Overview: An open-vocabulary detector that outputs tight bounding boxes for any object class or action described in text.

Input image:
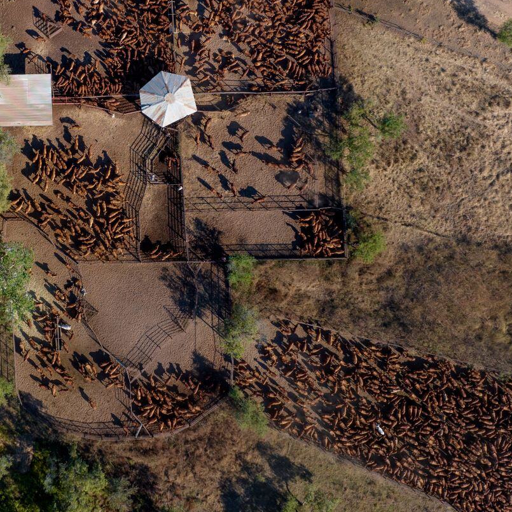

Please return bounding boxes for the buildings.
[139,70,197,130]
[0,74,53,129]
